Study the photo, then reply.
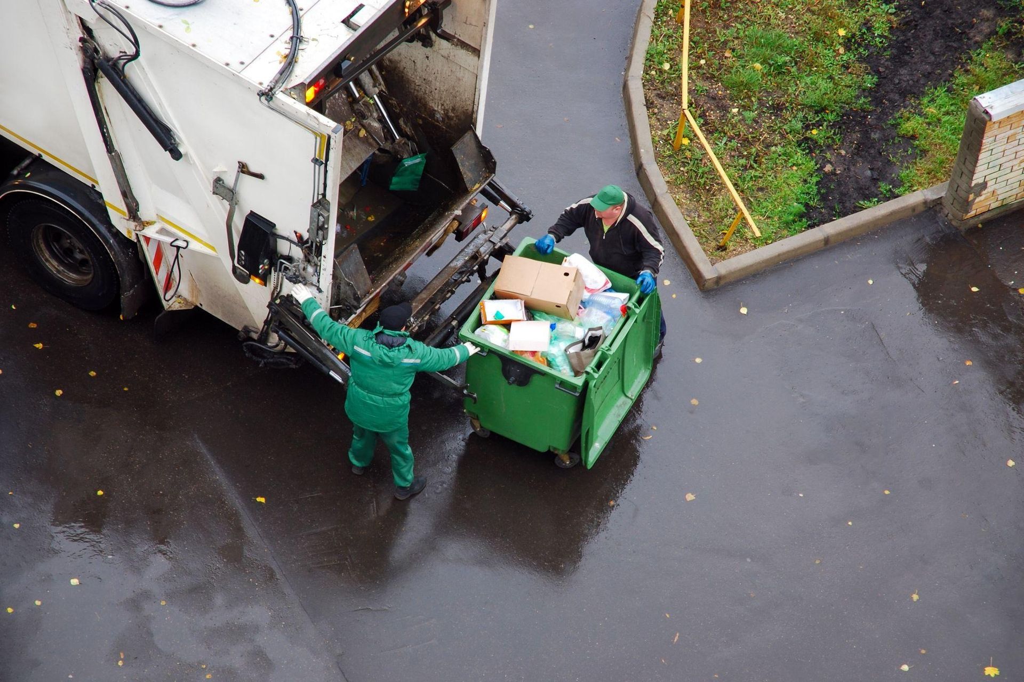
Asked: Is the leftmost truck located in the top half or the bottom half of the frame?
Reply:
top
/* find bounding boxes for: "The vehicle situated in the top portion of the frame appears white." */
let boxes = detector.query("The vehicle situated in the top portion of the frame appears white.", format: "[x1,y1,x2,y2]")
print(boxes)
[0,0,537,406]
